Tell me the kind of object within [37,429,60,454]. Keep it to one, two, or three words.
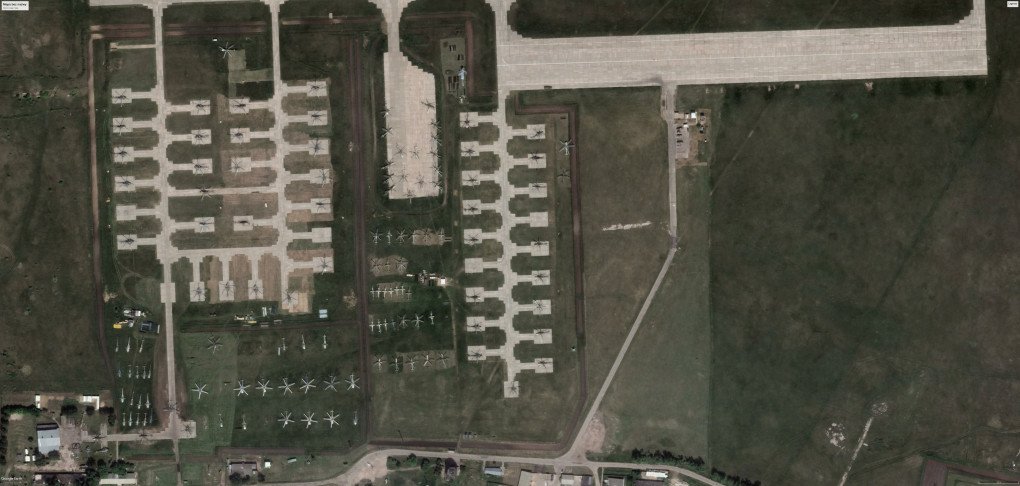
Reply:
hangar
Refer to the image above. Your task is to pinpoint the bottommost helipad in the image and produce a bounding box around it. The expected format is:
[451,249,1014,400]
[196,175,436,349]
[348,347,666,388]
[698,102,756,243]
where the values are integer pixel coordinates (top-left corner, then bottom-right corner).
[179,421,196,438]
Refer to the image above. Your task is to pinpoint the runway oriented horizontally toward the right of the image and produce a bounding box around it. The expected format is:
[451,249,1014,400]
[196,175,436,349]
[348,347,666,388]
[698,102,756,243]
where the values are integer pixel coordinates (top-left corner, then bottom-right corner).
[497,24,988,91]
